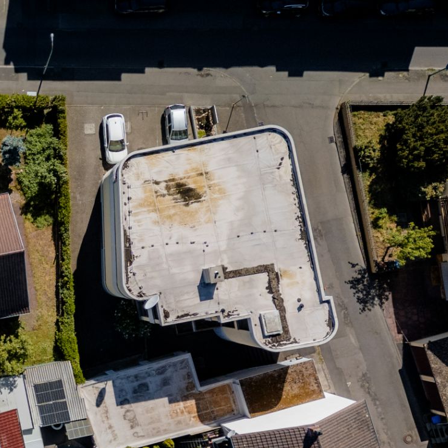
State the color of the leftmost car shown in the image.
white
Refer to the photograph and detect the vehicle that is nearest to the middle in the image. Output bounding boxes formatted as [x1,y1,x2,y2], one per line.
[166,100,196,144]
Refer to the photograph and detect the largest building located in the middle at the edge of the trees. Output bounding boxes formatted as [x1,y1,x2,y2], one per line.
[100,125,338,351]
